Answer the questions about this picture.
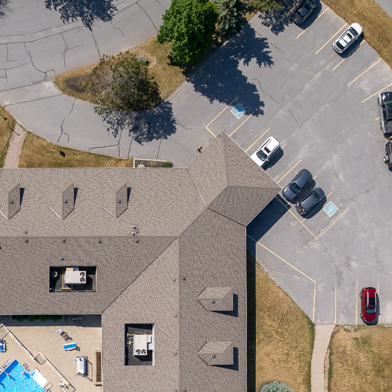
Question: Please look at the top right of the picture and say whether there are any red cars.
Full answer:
No, I see no red car at the top right of the picture.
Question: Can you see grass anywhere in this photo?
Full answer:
Yes, there's grass in this view.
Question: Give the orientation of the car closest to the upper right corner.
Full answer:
The car closest to the upper right corner has been laid out diagonally relative to the frame.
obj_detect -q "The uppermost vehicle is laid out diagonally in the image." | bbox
[289,0,321,27]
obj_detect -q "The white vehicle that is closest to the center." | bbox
[250,137,280,167]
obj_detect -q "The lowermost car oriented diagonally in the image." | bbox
[296,187,326,218]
